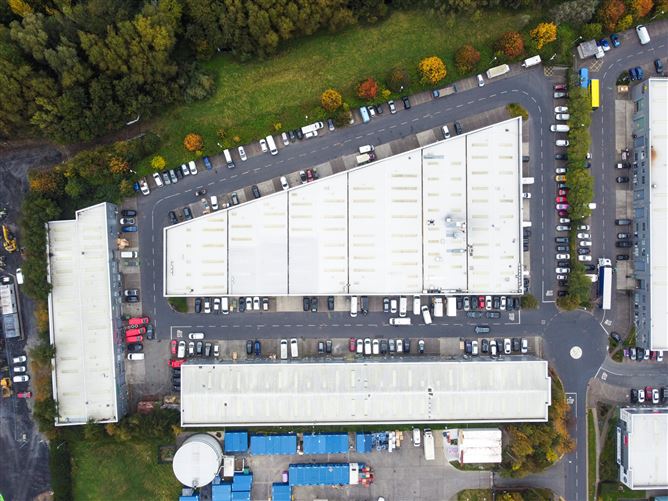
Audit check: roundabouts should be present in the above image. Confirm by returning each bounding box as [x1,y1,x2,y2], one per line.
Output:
[530,304,608,398]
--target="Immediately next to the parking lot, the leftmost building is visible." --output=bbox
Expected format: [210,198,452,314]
[48,202,129,424]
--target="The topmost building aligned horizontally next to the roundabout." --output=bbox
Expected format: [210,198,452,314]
[164,116,524,297]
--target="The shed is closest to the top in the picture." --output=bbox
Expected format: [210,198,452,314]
[575,39,599,61]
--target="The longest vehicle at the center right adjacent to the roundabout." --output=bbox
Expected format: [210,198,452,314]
[596,260,611,312]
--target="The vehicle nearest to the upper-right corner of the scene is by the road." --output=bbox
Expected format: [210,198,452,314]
[635,26,652,46]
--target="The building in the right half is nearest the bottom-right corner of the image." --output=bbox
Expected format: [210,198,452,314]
[611,408,668,489]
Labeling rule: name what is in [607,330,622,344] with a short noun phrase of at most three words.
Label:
vehicle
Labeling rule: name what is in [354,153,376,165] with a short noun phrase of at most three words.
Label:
vehicle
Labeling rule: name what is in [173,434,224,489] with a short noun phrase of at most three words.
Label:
storage tank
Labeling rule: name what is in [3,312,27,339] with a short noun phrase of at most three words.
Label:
building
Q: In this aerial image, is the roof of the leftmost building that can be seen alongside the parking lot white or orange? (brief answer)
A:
white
